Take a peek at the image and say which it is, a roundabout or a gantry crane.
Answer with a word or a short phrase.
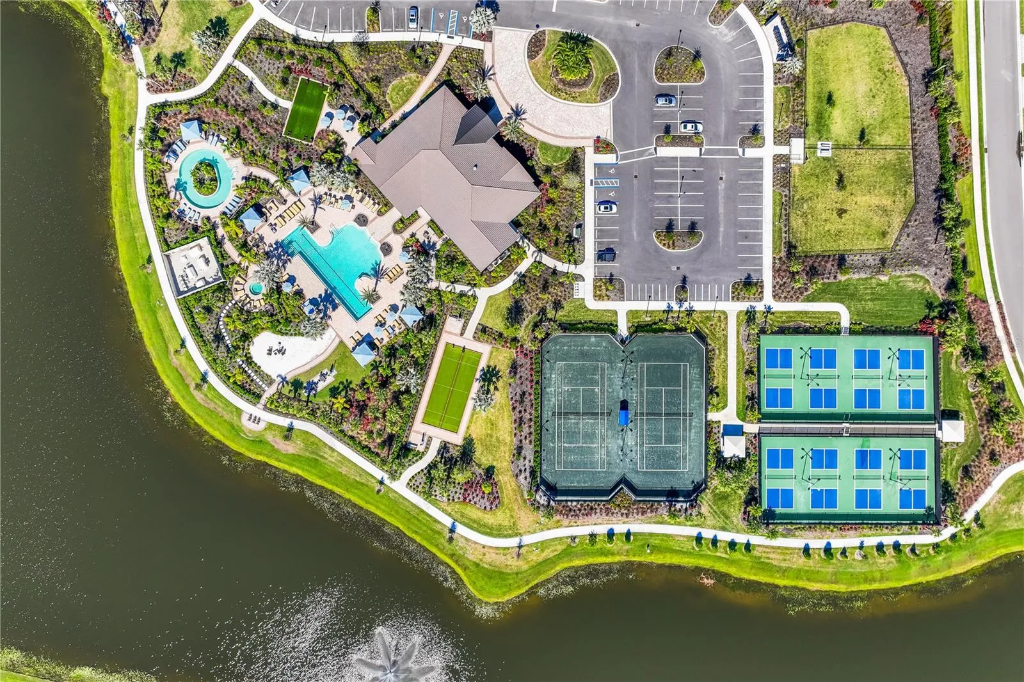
roundabout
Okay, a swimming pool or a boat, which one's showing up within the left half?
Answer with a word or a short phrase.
swimming pool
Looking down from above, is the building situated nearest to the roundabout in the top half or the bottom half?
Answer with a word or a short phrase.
top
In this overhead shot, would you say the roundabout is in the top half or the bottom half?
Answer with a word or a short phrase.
top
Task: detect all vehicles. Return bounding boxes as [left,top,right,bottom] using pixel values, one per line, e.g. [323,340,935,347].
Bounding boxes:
[680,122,703,132]
[408,7,418,29]
[596,252,617,261]
[655,95,676,106]
[597,203,617,212]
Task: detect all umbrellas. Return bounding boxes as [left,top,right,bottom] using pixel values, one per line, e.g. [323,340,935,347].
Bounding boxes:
[335,109,346,120]
[398,251,410,262]
[386,310,397,322]
[343,120,354,131]
[373,325,384,336]
[282,281,293,293]
[303,302,315,314]
[341,199,352,211]
[321,115,332,127]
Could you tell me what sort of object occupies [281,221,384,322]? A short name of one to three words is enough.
swimming pool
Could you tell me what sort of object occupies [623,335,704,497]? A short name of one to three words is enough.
tennis court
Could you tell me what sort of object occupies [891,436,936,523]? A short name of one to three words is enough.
sports court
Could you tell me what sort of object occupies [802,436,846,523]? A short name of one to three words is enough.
sports court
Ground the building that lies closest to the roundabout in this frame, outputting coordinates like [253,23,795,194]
[350,86,540,272]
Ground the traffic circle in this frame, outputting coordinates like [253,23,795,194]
[525,28,621,106]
